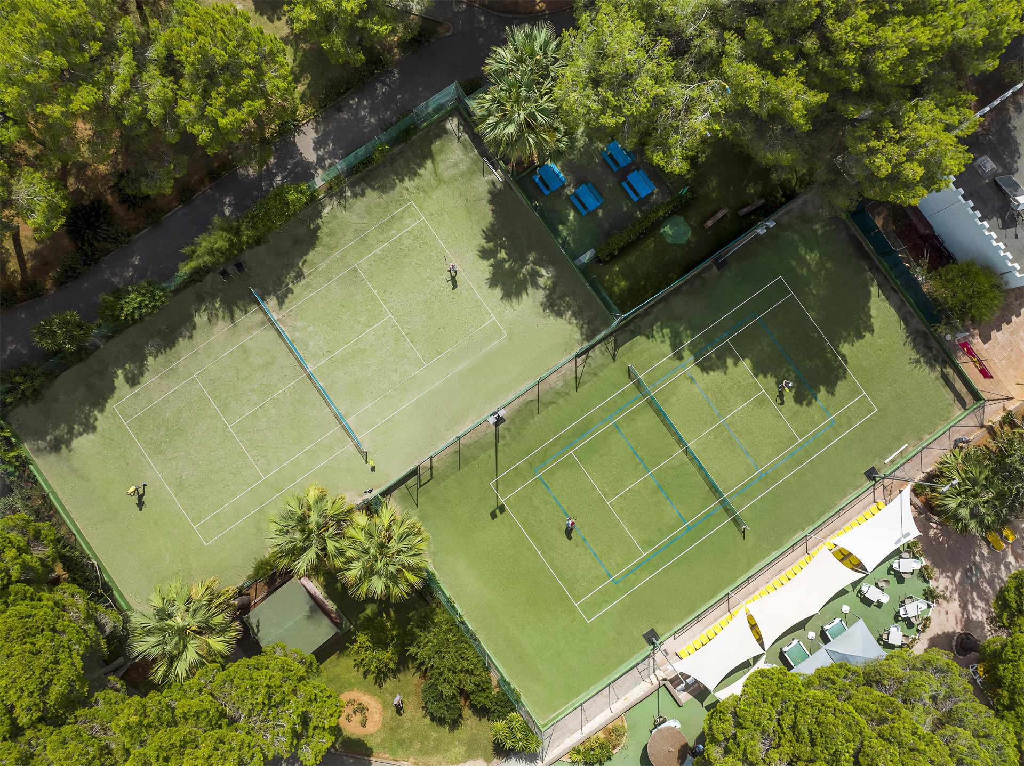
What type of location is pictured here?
sports ground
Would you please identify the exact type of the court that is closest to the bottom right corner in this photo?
tennis court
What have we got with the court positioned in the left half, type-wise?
tennis court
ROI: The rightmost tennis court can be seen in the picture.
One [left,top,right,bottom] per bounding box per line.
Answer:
[385,188,981,726]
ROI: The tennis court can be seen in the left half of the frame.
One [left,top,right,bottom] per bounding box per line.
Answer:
[3,108,619,641]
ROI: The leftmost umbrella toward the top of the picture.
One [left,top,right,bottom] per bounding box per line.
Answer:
[660,214,691,246]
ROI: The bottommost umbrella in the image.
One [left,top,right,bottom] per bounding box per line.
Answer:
[647,726,687,766]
